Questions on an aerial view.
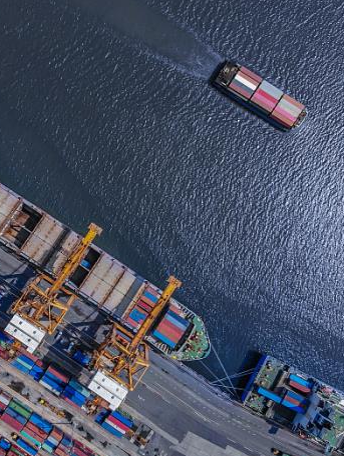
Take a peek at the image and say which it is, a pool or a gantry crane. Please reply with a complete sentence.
The image shows a gantry crane.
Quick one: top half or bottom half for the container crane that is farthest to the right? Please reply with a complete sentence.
The container crane that is farthest to the right is in the bottom half of the image.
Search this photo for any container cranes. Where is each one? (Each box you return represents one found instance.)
[82,273,183,410]
[3,218,104,354]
